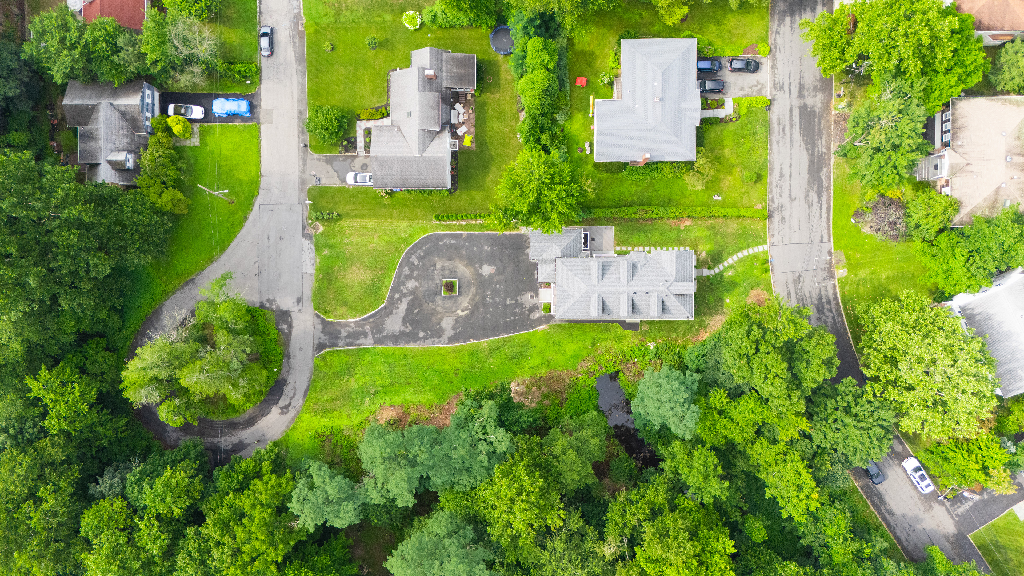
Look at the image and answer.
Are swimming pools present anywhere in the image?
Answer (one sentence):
No, I can't see a single swimming pool in this photo.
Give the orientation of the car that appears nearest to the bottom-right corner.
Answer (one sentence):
The car that appears nearest to the bottom-right corner is oriented diagonally.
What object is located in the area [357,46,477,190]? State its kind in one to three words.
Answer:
house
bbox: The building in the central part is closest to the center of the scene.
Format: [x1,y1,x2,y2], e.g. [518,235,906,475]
[530,228,696,323]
